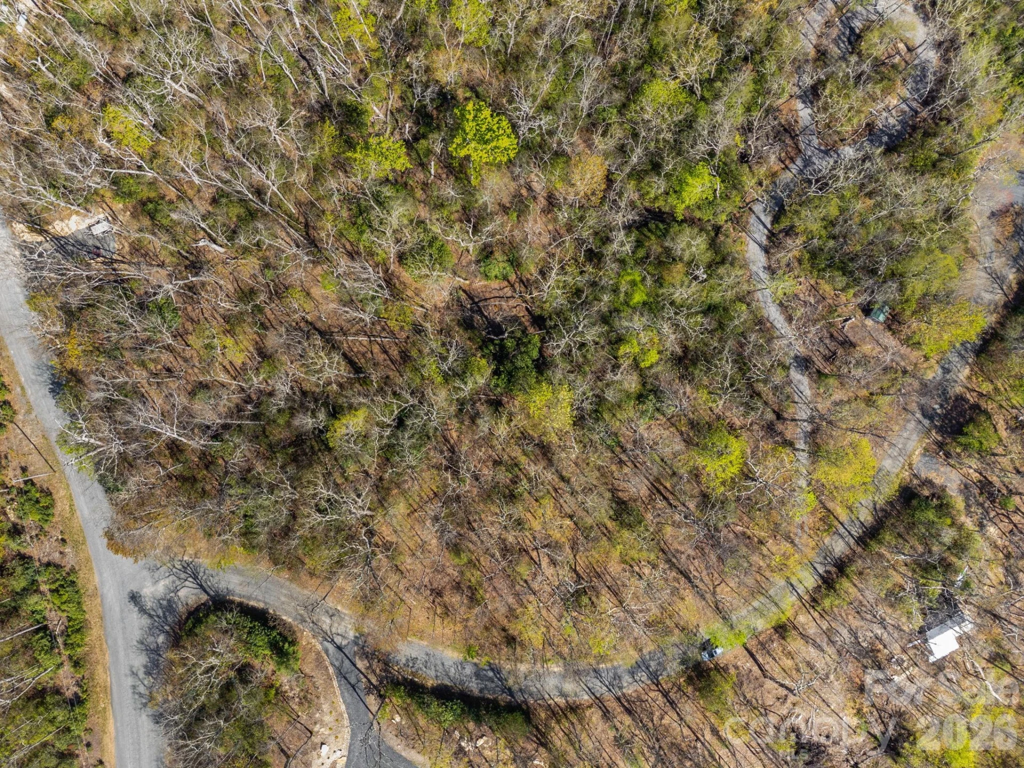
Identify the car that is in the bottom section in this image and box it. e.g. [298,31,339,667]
[702,643,727,658]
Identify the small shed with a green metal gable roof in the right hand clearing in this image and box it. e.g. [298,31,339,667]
[863,305,886,325]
